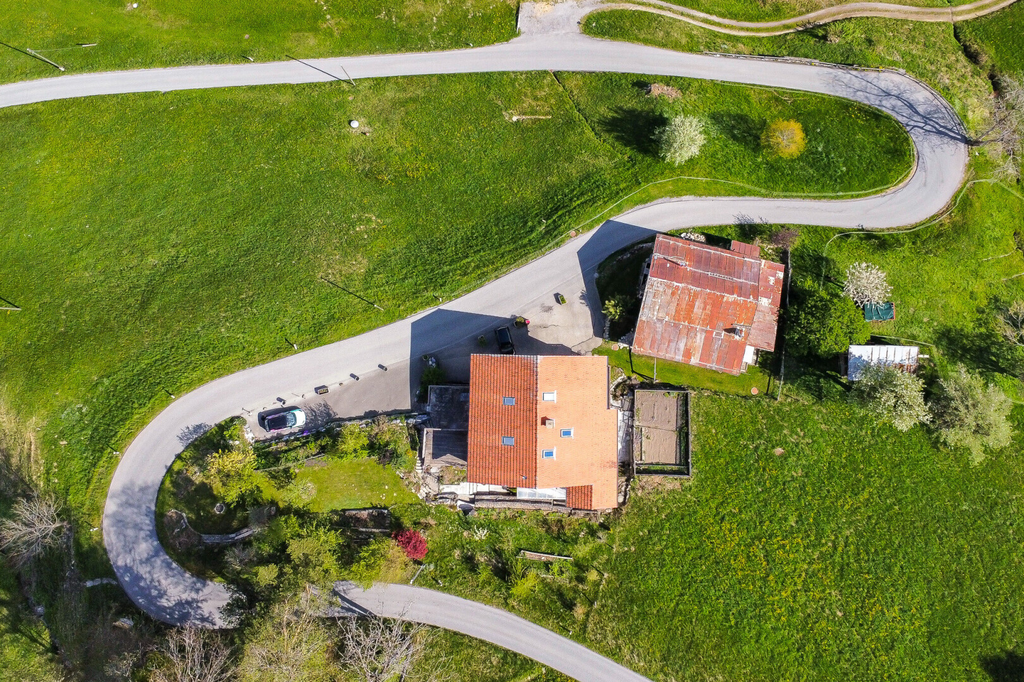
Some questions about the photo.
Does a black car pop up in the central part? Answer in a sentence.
Yes, the scene does show a black car in the central part.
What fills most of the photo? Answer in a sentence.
The largest share of the image is taken up by grass.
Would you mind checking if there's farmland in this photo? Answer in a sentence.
No, there's no farmland in this view.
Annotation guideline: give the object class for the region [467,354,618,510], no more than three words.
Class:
house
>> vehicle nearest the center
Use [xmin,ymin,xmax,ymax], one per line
[495,323,518,355]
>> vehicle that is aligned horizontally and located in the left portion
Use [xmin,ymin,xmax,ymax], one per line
[260,410,304,433]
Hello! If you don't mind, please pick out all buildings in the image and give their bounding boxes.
[840,345,930,381]
[467,354,618,510]
[632,234,784,376]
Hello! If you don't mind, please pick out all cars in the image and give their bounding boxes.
[260,410,304,433]
[495,323,518,355]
